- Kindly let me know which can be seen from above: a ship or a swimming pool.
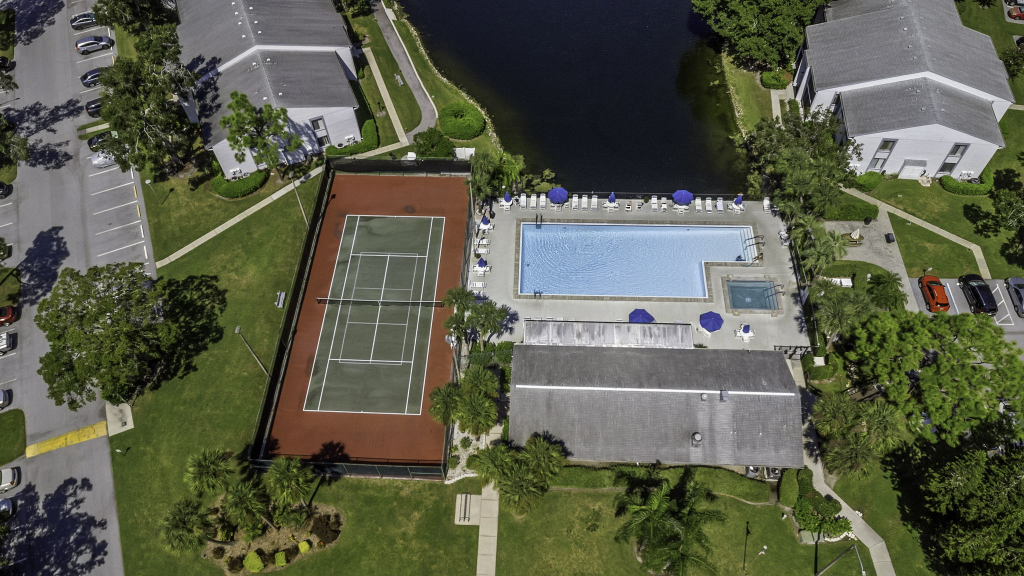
swimming pool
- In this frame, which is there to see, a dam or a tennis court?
tennis court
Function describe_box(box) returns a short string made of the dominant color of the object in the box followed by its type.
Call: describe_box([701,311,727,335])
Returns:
blue umbrella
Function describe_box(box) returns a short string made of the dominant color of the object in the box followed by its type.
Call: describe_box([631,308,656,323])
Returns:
blue umbrella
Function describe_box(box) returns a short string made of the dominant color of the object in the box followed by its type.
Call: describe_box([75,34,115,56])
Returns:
gray car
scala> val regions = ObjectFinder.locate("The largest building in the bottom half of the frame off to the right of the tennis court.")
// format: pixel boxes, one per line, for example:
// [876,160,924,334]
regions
[510,344,805,470]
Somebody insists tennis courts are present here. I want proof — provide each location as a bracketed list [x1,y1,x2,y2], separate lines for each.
[262,174,472,478]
